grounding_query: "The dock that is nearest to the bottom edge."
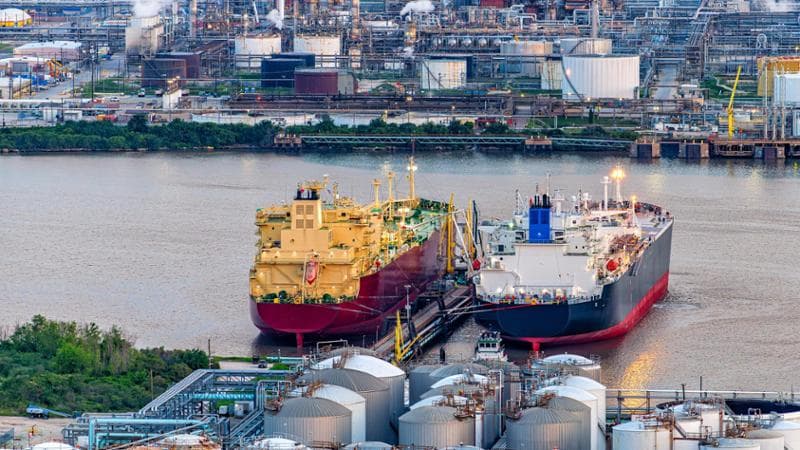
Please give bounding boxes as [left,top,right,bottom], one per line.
[354,277,481,366]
